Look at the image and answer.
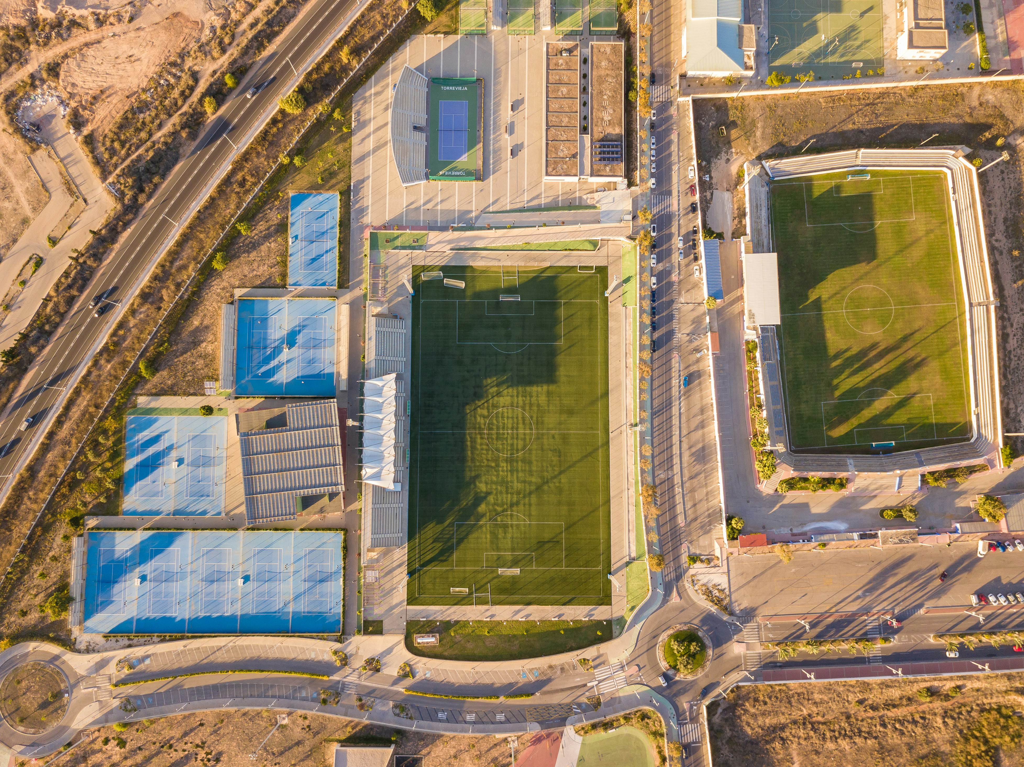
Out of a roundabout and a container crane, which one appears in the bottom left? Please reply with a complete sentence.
What appears in the bottom left is a roundabout.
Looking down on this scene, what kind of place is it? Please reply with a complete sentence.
This looks like a sports ground.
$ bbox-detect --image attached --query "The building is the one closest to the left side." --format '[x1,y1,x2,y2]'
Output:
[236,399,349,526]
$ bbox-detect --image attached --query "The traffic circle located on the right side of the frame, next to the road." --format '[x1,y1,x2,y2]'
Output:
[632,597,738,707]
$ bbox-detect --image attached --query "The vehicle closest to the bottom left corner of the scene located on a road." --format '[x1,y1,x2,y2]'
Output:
[18,418,31,431]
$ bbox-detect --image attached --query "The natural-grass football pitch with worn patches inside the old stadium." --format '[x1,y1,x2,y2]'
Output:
[770,169,973,454]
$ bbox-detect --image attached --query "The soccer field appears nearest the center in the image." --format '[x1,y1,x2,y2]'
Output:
[407,265,612,605]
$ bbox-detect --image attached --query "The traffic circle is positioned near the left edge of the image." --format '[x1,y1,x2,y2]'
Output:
[0,651,86,748]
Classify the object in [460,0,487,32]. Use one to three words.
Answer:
sports court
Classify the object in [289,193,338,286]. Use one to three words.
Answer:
tennis court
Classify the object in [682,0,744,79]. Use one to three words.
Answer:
building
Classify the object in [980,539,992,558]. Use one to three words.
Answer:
vehicle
